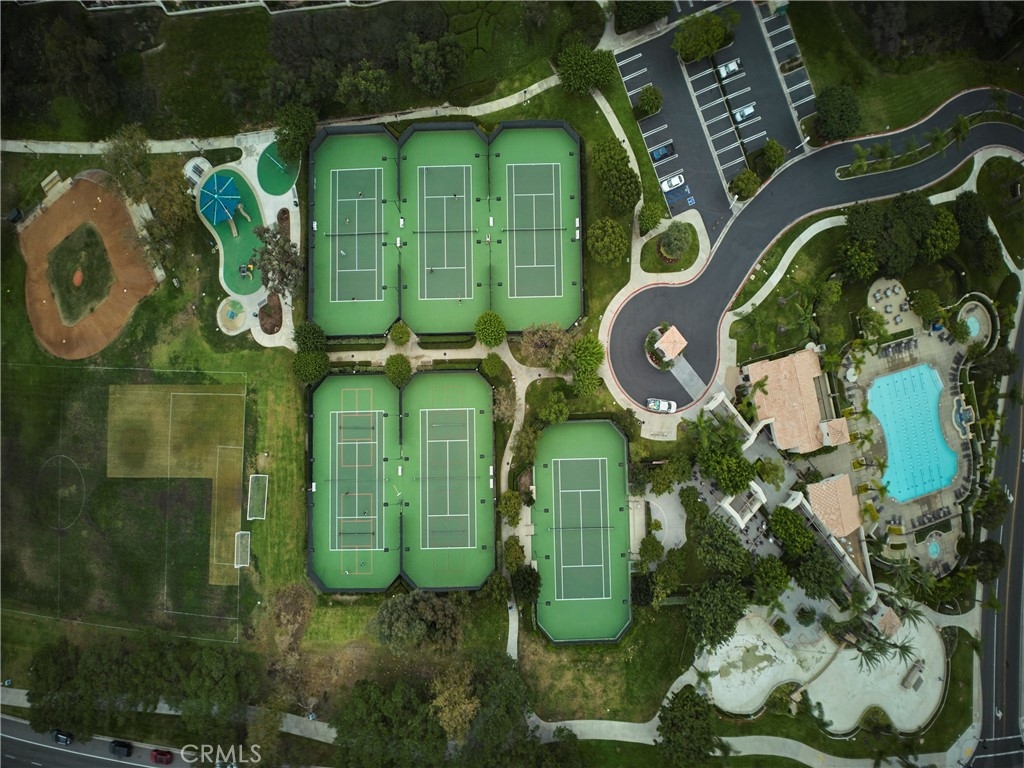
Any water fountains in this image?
Yes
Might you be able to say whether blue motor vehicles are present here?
Yes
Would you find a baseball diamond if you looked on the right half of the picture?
No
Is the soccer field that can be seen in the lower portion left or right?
left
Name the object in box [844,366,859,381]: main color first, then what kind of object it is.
white umbrella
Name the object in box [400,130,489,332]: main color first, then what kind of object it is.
green tennis court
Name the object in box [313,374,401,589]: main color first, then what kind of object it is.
green tennis court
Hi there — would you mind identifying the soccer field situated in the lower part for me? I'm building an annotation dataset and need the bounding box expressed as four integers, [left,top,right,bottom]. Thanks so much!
[0,364,246,643]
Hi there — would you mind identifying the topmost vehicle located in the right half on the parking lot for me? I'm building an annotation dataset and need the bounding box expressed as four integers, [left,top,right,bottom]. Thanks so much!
[716,57,745,77]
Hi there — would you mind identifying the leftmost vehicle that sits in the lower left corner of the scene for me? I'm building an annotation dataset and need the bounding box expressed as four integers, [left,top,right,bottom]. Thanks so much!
[48,729,76,747]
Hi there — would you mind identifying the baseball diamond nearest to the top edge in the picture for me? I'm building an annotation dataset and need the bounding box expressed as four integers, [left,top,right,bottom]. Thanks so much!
[18,166,157,360]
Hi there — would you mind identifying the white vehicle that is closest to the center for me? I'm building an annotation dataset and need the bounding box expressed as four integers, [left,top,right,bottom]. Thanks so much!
[645,398,676,412]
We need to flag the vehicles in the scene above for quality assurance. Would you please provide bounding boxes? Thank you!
[648,142,674,161]
[660,173,686,192]
[645,398,676,412]
[148,748,175,766]
[107,739,135,757]
[48,729,76,747]
[730,102,756,120]
[716,57,745,77]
